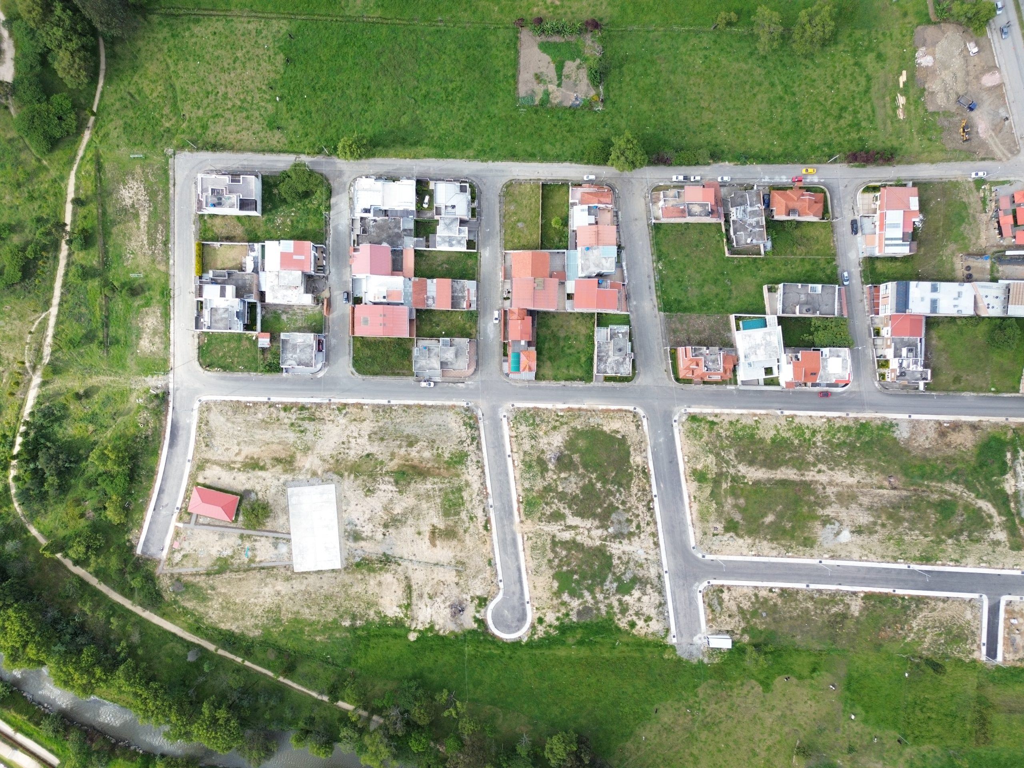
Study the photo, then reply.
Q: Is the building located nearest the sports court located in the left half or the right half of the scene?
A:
left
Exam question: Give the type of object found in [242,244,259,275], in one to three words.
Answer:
shed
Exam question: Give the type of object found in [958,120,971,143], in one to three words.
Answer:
vehicle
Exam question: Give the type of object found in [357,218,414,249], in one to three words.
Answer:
house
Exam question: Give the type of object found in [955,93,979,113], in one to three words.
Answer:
vehicle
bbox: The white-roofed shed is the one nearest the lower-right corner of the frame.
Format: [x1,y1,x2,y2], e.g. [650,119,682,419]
[706,633,732,648]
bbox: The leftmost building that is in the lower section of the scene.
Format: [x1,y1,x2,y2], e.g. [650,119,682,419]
[187,486,242,522]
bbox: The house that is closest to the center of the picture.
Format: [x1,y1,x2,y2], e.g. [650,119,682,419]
[503,341,536,380]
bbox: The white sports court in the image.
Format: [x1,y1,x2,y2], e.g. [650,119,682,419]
[288,485,341,572]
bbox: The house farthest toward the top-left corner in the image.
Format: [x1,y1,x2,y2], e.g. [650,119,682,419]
[195,174,262,216]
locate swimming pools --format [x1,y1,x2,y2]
[741,317,768,331]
